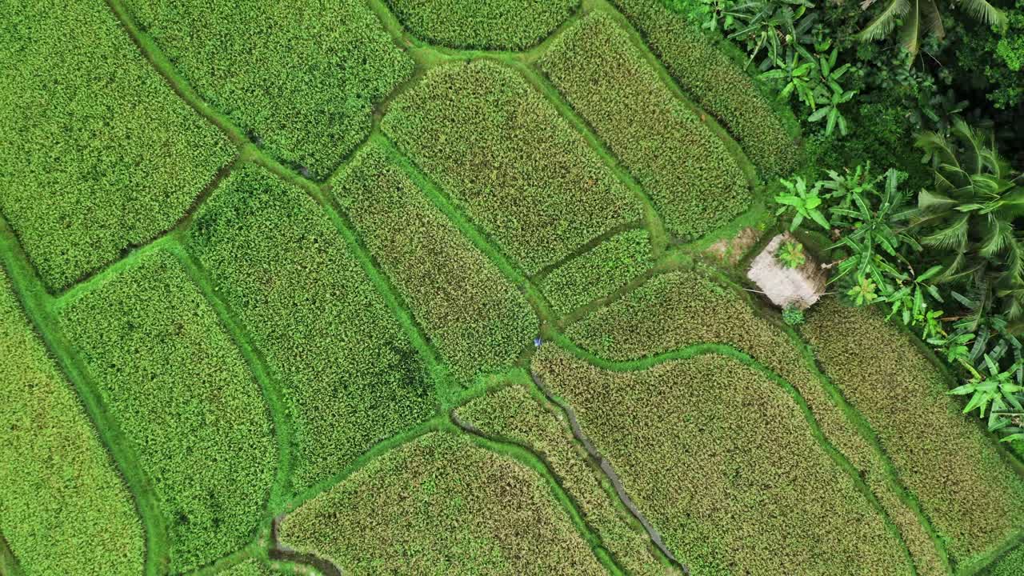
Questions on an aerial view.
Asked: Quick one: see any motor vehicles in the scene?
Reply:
No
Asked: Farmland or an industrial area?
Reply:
farmland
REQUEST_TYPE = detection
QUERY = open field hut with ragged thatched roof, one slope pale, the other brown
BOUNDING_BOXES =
[746,230,830,314]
